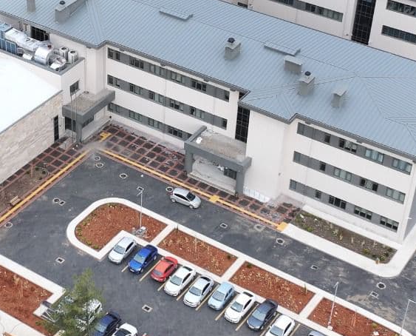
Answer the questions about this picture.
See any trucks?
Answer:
No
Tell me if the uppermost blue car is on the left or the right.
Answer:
left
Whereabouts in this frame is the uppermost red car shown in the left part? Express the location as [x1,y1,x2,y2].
[148,253,180,284]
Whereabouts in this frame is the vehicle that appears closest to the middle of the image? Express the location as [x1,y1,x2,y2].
[169,186,202,210]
